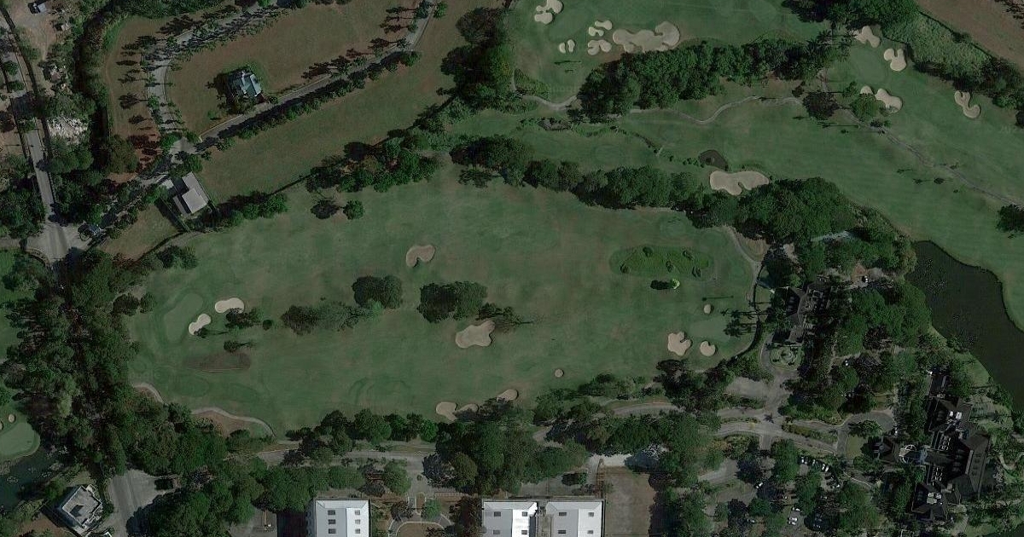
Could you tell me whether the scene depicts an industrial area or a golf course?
golf course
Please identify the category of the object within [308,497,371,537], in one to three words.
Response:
building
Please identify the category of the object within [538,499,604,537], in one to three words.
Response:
building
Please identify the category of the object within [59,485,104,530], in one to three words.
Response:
house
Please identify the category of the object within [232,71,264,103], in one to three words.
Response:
house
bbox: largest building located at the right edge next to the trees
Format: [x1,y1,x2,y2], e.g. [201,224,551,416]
[912,375,990,523]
